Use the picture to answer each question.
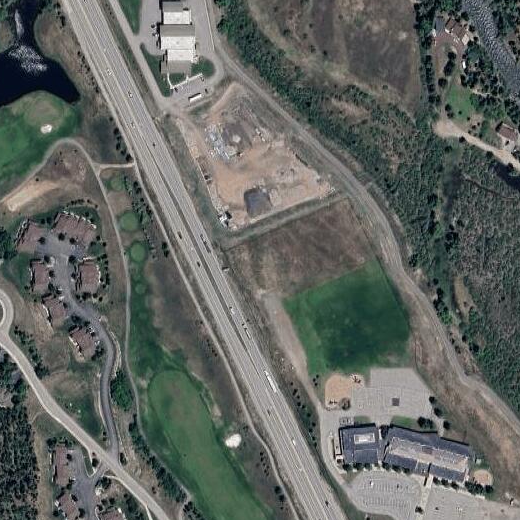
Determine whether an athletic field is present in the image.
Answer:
Yes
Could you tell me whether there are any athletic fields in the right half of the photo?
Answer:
Yes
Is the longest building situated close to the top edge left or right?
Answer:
left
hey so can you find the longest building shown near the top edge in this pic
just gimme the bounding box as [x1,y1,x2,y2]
[160,1,195,72]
